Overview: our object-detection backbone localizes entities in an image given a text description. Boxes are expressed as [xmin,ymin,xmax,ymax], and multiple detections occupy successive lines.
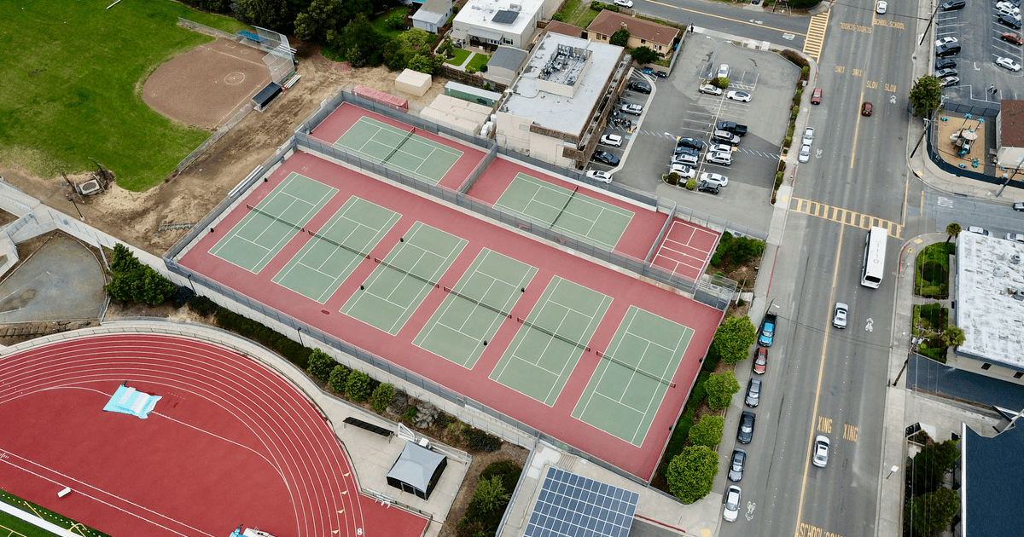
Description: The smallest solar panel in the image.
[492,9,519,24]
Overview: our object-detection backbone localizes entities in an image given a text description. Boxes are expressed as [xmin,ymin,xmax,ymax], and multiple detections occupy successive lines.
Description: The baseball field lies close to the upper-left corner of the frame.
[0,0,286,193]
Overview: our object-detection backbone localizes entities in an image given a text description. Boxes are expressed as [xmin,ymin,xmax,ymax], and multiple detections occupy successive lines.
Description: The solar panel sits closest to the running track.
[524,468,639,537]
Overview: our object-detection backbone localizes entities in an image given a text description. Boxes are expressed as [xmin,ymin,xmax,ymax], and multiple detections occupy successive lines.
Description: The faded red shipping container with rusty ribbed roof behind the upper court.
[352,85,409,111]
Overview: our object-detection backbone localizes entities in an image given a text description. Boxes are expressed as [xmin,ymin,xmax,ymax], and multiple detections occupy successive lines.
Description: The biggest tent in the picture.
[387,441,447,501]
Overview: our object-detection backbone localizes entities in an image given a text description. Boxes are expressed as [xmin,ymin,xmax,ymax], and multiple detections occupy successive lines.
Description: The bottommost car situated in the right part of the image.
[722,485,742,521]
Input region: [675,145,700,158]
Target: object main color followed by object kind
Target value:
blue vehicle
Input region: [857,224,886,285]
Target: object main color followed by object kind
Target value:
white bus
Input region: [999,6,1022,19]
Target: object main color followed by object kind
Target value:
white vehicle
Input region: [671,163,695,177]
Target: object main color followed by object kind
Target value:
white car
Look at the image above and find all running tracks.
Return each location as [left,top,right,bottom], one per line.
[0,331,429,537]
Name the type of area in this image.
sports ground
